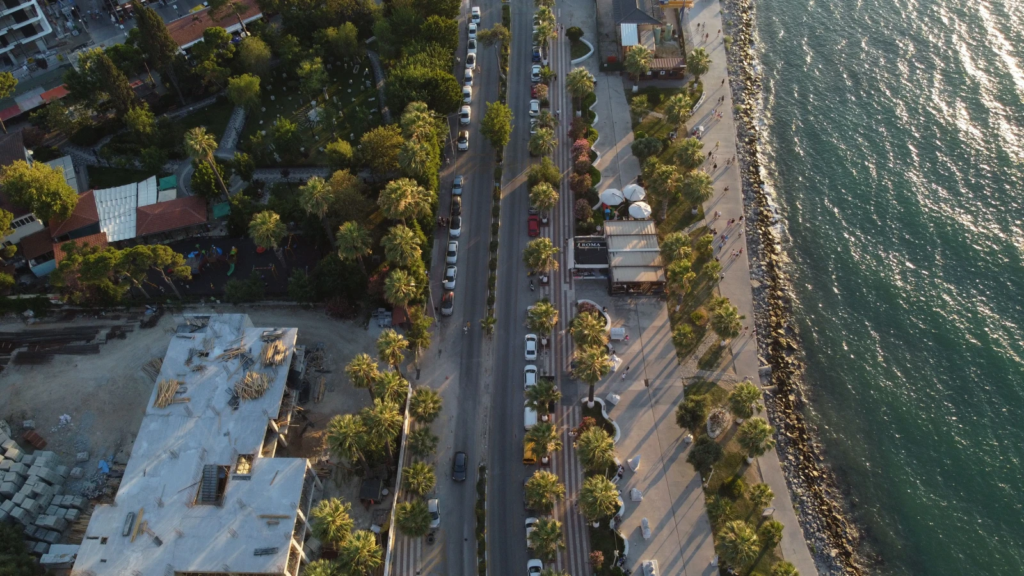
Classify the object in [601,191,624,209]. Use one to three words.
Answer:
umbrella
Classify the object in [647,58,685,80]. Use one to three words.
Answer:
building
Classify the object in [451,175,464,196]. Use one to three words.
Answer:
vehicle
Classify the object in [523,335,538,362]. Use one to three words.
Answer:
car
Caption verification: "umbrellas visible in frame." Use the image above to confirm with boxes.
[622,186,645,215]
[627,203,651,221]
[601,191,624,209]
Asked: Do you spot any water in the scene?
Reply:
Yes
